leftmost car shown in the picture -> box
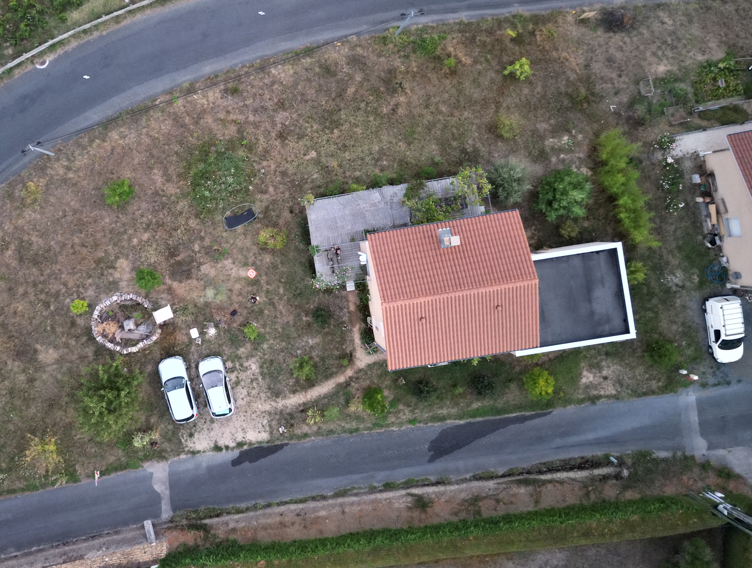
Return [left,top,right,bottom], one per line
[159,355,200,425]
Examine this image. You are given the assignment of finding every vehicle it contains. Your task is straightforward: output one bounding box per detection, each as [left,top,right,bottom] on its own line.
[159,355,200,425]
[201,355,239,420]
[702,296,749,364]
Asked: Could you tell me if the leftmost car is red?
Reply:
No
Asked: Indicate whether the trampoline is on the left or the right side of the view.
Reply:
left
